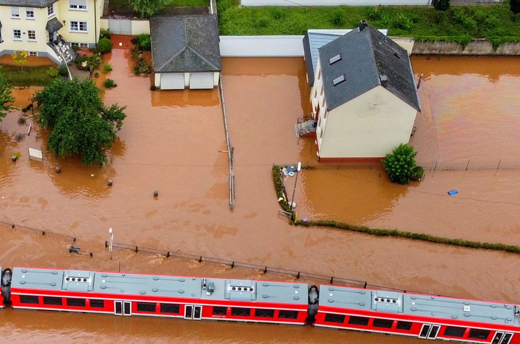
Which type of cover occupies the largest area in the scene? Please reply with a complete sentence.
The scene is dominated by water.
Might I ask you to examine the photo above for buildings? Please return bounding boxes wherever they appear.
[0,0,105,66]
[151,15,222,90]
[240,0,434,10]
[285,15,424,160]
